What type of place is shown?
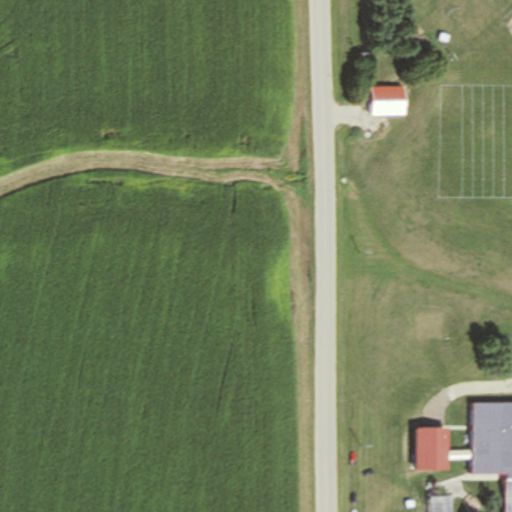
farmland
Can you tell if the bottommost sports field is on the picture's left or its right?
right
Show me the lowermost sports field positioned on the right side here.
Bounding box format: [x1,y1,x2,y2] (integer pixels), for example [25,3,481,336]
[438,84,512,198]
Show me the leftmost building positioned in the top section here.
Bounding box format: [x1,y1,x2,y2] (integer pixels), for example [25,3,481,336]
[370,86,408,116]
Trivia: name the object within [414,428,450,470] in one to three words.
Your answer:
building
